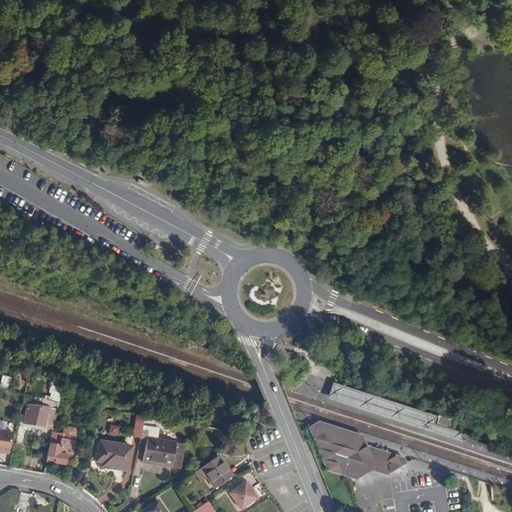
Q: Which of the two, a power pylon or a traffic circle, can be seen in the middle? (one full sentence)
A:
There is a traffic circle in the middle.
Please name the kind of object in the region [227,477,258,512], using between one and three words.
house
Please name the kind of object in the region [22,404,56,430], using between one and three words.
house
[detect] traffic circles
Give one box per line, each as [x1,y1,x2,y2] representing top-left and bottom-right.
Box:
[221,248,312,338]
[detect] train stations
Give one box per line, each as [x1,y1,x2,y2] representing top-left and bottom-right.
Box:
[310,421,406,480]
